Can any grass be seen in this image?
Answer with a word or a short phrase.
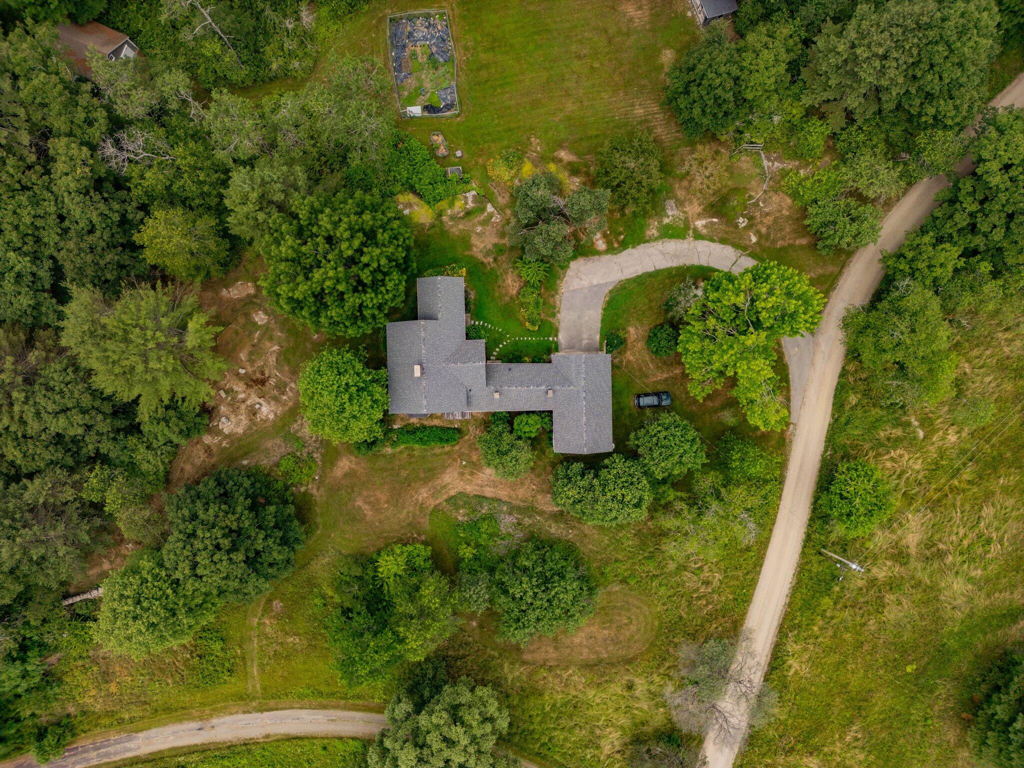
Yes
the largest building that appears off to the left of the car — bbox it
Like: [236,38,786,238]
[388,275,618,455]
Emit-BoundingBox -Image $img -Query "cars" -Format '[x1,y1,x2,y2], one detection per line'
[633,390,671,408]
